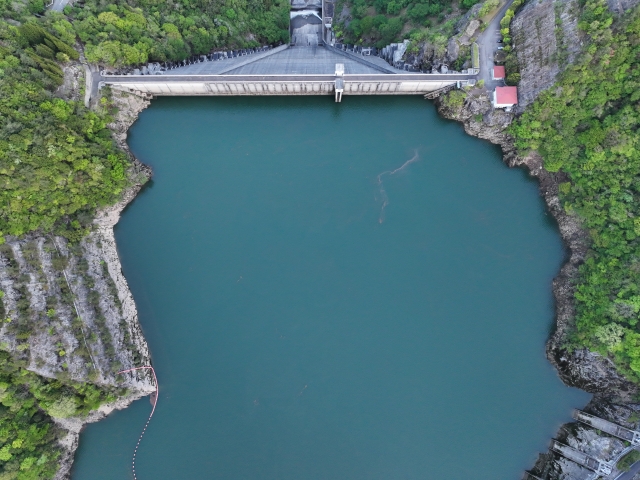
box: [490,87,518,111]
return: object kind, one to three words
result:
house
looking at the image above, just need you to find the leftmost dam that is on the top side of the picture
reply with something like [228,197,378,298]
[97,0,481,99]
